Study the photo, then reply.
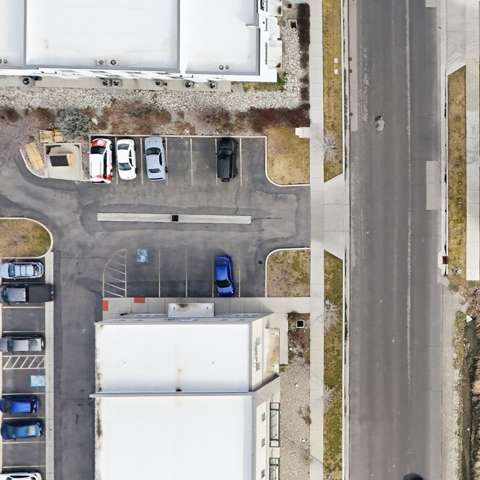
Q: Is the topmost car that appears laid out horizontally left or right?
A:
left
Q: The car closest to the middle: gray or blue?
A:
blue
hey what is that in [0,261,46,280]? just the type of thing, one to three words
car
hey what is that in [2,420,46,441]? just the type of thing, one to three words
car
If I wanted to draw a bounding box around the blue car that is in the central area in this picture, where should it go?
[214,256,236,296]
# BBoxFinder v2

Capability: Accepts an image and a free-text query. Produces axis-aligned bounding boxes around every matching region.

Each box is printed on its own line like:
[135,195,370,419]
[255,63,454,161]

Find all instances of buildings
[0,0,283,83]
[90,303,280,480]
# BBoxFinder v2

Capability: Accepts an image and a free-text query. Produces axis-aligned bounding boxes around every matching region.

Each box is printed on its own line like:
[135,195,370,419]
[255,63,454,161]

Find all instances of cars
[88,138,114,183]
[143,136,167,181]
[214,256,236,296]
[1,394,41,414]
[2,420,46,441]
[0,471,43,480]
[0,334,46,354]
[215,140,238,182]
[0,261,46,280]
[115,138,138,180]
